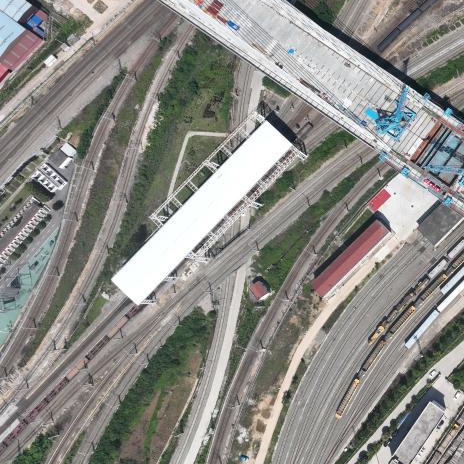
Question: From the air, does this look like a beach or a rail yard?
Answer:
rail yard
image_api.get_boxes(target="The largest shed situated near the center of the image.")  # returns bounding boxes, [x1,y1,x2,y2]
[110,109,312,317]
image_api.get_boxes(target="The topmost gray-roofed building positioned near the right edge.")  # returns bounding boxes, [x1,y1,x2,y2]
[416,199,462,245]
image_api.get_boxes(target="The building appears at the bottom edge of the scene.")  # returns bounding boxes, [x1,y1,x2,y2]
[389,396,447,464]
